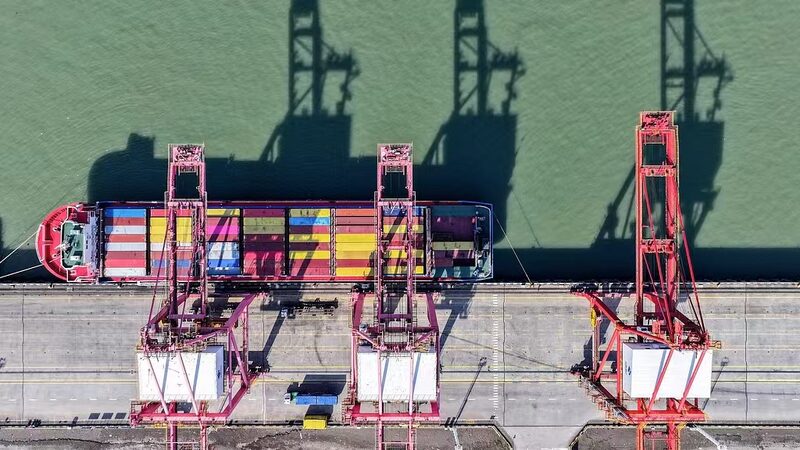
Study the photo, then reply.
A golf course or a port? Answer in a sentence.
This image shows a port.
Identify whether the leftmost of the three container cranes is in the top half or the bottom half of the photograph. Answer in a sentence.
The leftmost of the three container cranes is in the bottom half of the image.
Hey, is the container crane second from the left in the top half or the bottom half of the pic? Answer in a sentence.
You can find the container crane second from the left in the bottom half.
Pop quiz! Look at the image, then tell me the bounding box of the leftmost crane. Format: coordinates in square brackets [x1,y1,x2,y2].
[126,144,268,450]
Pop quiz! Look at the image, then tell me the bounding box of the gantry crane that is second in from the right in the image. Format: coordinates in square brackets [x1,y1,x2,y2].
[344,142,443,450]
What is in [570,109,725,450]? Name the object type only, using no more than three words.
container crane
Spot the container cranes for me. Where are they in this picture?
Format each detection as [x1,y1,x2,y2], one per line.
[344,142,443,450]
[126,144,268,450]
[570,109,725,450]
